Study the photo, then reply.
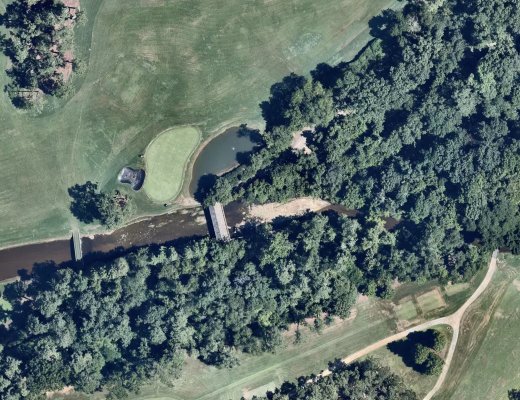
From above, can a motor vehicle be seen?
No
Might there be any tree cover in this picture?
Yes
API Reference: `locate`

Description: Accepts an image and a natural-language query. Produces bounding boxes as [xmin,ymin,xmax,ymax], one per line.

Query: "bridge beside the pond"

[206,198,231,245]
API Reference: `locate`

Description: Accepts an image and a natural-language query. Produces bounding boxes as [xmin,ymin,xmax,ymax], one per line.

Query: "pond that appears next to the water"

[188,123,268,204]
